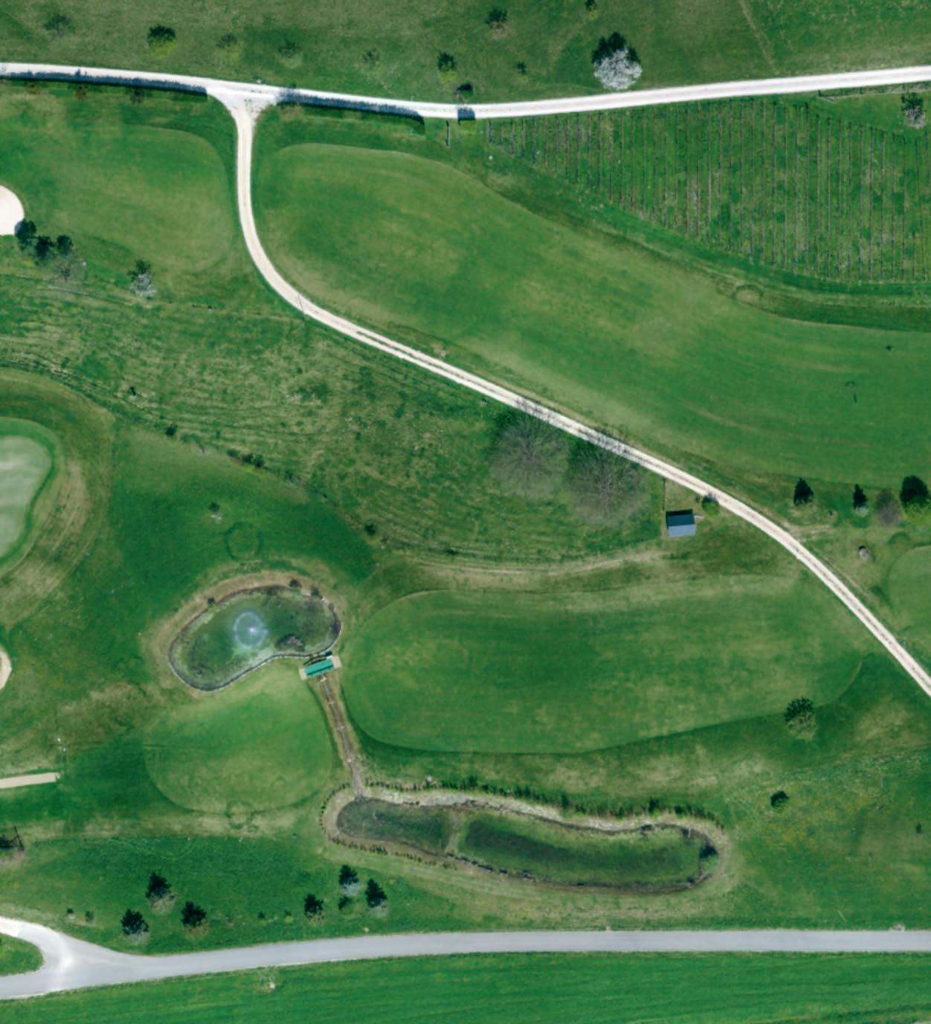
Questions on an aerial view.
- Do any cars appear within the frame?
No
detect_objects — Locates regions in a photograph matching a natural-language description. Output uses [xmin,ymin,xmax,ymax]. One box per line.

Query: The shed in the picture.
[668,515,696,537]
